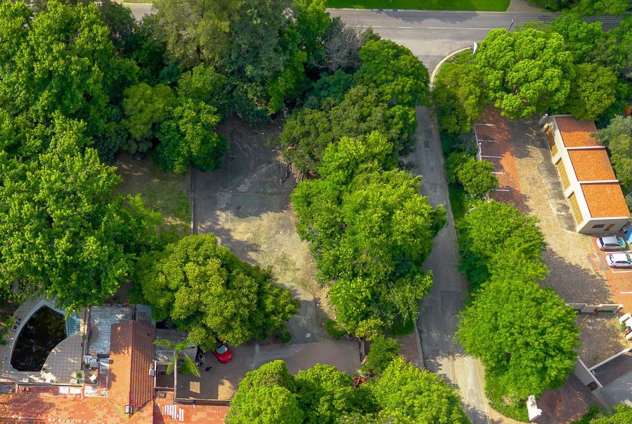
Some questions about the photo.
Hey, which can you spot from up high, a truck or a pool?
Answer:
pool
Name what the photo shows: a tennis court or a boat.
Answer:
tennis court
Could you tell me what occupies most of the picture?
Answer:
trees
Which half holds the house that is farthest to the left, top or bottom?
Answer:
bottom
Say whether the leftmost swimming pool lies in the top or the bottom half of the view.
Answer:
bottom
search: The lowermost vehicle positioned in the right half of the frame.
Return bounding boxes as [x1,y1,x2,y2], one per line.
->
[601,251,632,269]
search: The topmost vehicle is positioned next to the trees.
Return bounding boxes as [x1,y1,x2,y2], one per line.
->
[591,233,628,252]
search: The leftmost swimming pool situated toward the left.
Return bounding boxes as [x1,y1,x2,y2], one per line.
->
[9,302,68,372]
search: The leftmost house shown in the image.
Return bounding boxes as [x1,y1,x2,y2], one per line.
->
[0,303,229,424]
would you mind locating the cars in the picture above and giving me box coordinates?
[591,233,628,252]
[209,340,238,369]
[601,251,632,269]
